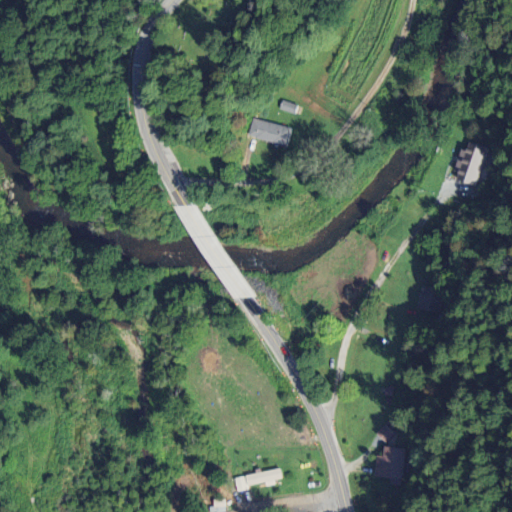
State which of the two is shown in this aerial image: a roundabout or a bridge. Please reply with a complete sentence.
I can see a bridge in this picture.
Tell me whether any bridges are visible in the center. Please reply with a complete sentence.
Yes, a bridge appears in the center.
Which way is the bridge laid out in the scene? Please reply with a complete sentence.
The bridge is laid out at an angle.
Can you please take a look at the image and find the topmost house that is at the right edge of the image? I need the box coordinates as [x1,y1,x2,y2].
[453,143,488,188]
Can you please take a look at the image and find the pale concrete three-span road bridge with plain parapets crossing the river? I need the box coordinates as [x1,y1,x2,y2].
[175,204,256,300]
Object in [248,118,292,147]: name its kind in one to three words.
house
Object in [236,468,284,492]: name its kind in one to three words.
house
